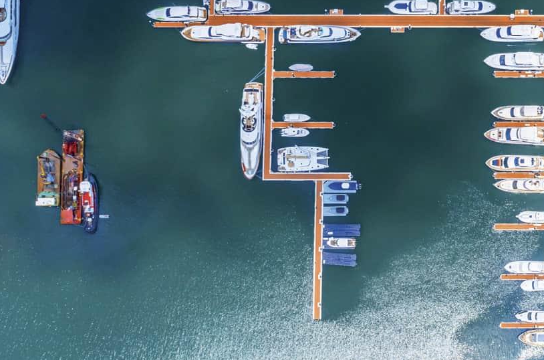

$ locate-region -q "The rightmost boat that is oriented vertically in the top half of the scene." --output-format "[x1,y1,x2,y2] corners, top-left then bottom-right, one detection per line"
[239,80,263,179]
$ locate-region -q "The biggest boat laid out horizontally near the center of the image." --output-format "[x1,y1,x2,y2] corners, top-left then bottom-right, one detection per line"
[277,147,329,171]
